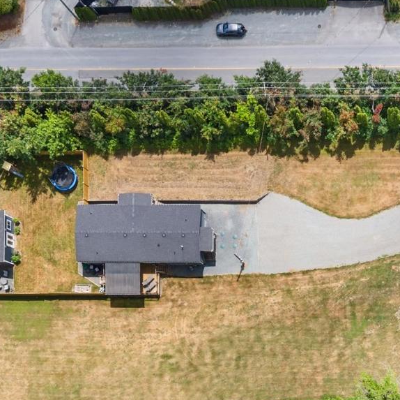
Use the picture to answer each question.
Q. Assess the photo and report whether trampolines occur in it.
Yes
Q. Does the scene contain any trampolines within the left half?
Yes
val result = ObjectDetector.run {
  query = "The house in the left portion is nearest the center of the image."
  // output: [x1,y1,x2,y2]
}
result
[75,193,217,265]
